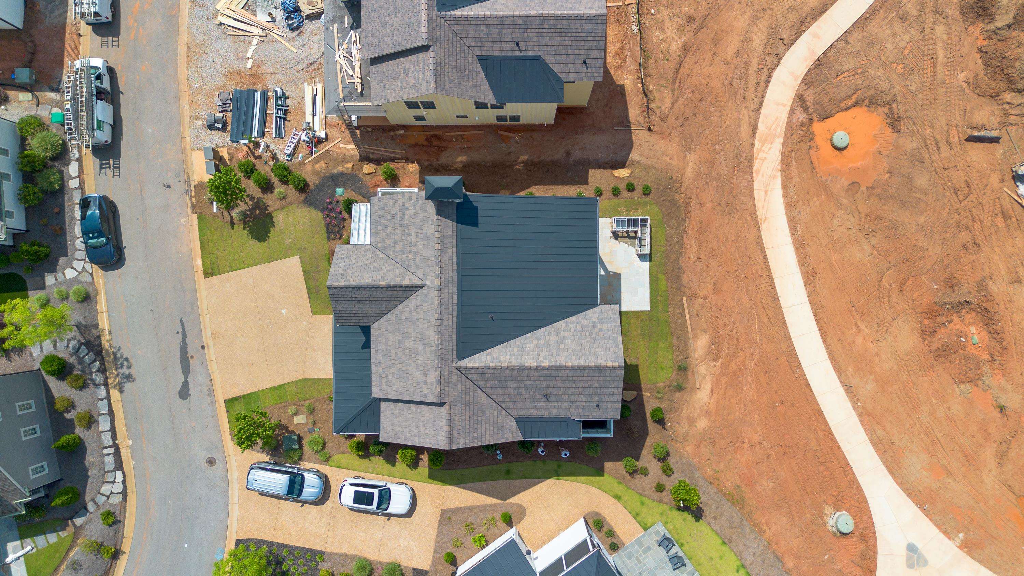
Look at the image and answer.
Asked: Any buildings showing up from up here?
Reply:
Yes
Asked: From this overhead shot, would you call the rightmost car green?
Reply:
No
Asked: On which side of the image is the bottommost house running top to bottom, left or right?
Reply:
left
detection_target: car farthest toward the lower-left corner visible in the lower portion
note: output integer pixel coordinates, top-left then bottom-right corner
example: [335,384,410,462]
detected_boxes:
[246,460,330,504]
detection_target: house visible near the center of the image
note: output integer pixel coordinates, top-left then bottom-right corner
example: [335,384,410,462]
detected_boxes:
[326,176,624,449]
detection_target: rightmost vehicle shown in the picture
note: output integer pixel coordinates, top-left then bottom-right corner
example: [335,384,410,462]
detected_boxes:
[338,476,415,519]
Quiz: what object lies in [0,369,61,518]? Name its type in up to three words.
house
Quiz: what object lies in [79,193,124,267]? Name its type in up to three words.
car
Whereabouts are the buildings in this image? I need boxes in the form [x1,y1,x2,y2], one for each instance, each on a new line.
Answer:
[447,516,625,576]
[324,0,608,128]
[0,369,61,518]
[326,176,624,449]
[0,116,28,247]
[0,0,25,30]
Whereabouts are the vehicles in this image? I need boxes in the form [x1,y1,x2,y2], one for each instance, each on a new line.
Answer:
[79,193,124,267]
[64,0,118,31]
[246,460,330,504]
[338,476,415,519]
[64,59,119,148]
